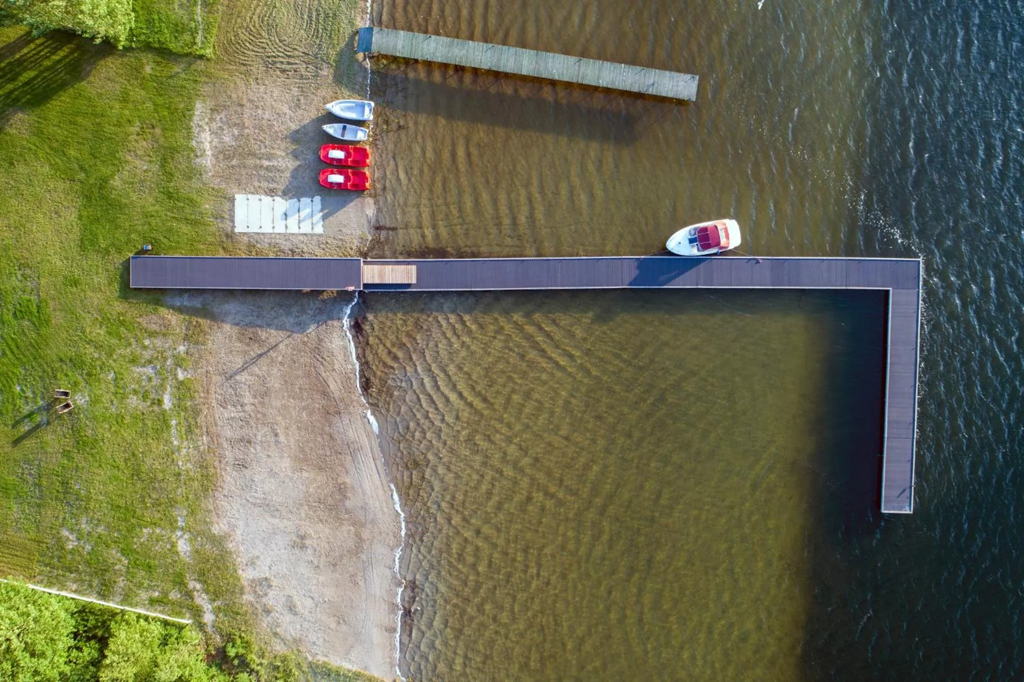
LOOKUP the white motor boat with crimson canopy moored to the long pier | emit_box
[665,219,741,256]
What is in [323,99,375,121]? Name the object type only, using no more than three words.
boat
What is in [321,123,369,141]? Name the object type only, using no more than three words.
boat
